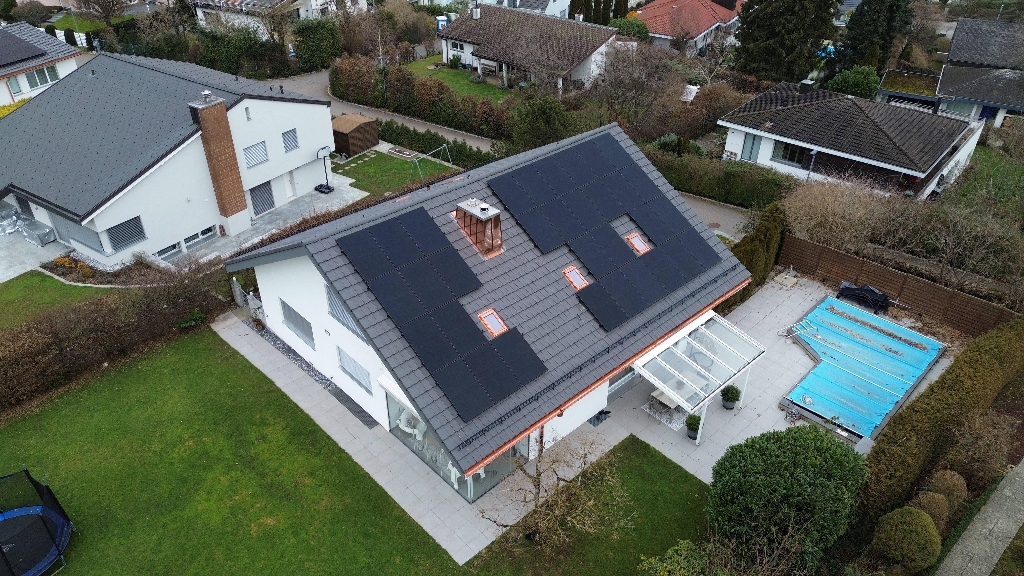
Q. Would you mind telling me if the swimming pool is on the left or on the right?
right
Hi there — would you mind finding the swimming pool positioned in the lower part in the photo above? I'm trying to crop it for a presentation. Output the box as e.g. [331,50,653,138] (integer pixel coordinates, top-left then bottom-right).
[778,294,956,454]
